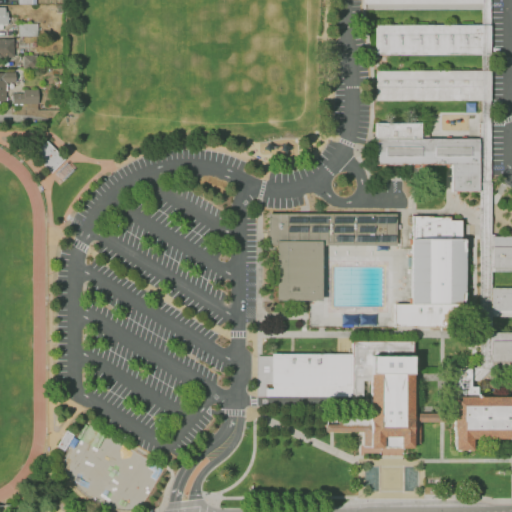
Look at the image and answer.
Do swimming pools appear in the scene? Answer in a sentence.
Yes, the photo shows a swimming pool.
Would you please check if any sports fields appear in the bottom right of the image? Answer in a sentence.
No, I can find no sports field in the bottom right of the image.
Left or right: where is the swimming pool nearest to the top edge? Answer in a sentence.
The swimming pool nearest to the top edge appears in the right half of the scene.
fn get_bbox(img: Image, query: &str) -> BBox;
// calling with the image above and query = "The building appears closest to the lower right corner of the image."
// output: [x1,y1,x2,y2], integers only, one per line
[456,398,512,452]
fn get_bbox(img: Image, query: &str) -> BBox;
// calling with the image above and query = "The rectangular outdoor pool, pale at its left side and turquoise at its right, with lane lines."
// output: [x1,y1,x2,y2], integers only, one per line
[330,263,386,310]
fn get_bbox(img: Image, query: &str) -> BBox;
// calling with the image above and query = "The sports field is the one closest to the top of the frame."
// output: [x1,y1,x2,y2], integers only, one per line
[56,0,321,160]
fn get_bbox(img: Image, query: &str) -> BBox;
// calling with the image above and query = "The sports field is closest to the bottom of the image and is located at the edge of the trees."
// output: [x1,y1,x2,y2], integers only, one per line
[0,164,34,486]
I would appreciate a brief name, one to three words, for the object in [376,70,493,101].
building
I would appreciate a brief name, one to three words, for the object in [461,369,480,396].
shed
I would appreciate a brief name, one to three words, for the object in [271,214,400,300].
building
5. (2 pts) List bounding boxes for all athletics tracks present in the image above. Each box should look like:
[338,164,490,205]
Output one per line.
[0,146,46,504]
